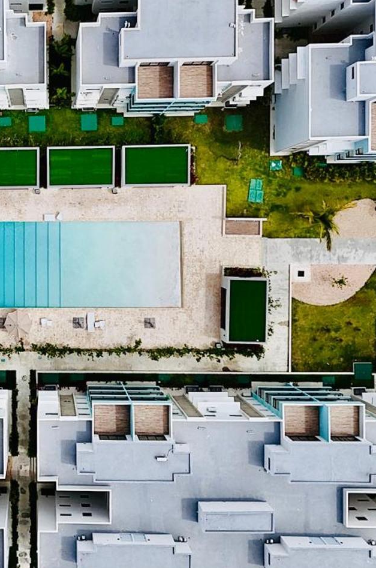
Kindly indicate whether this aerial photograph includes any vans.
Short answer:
No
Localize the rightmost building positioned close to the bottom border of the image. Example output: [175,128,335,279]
[34,379,376,568]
